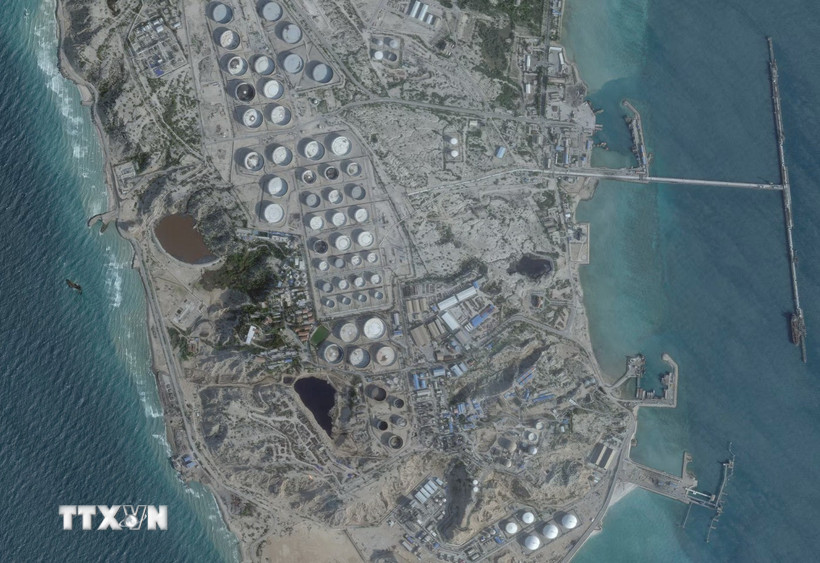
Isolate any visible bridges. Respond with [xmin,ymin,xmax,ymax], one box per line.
[644,177,782,190]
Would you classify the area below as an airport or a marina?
marina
